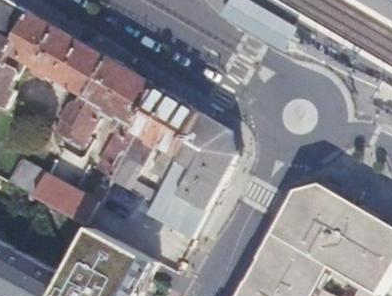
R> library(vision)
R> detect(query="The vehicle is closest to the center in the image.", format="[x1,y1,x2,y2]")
[203,67,224,84]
